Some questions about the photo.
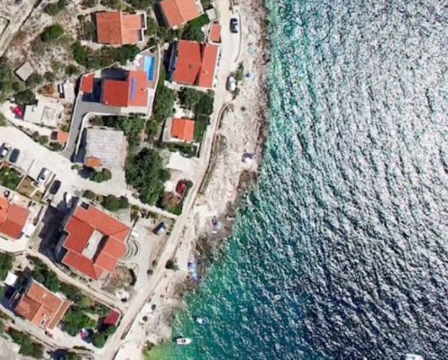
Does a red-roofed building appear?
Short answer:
Yes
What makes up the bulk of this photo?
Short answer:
water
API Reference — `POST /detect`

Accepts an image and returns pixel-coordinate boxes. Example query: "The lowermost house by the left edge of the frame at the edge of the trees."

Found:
[12,274,70,331]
